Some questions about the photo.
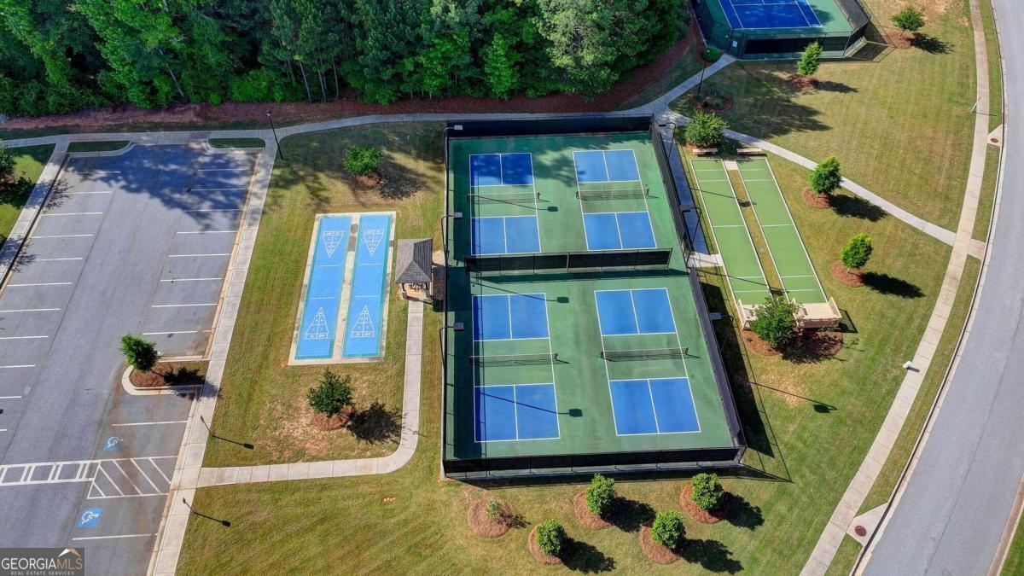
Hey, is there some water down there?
No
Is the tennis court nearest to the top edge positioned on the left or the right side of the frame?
right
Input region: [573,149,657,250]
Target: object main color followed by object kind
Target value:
blue sports court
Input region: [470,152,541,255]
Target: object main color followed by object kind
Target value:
blue sports court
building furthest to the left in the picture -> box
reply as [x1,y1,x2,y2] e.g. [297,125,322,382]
[394,238,445,302]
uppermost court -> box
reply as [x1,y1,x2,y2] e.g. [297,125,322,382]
[689,0,864,60]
